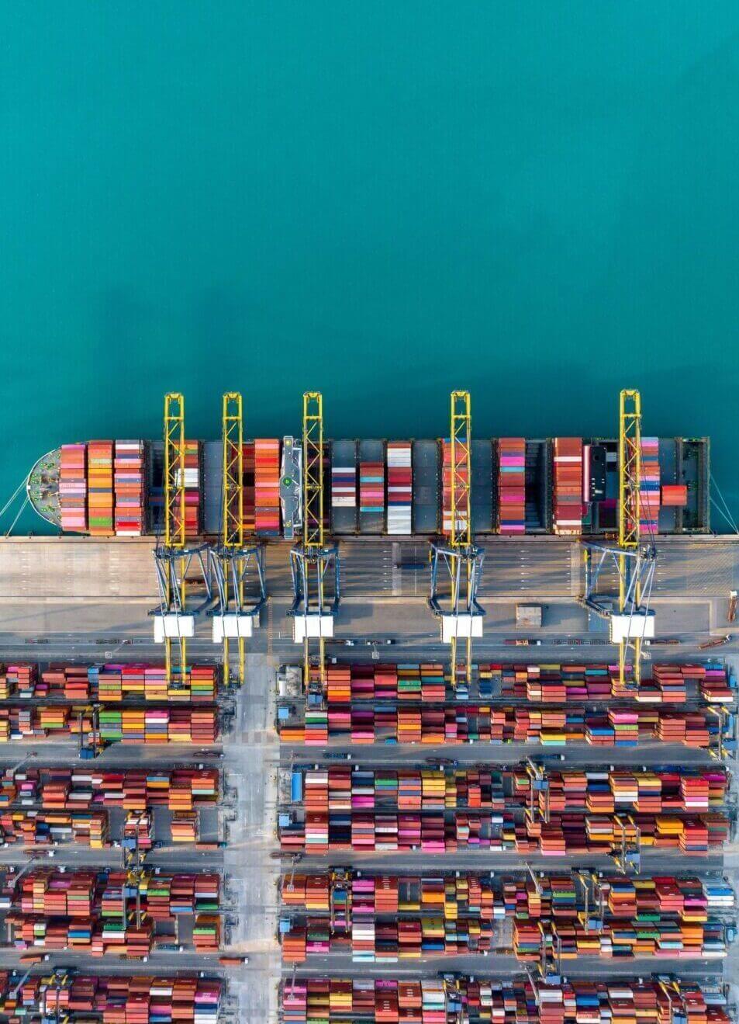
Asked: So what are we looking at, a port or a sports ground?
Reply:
port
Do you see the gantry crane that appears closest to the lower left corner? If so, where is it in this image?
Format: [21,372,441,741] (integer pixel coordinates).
[42,967,77,1024]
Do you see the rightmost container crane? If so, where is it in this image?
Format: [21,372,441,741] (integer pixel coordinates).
[695,702,733,764]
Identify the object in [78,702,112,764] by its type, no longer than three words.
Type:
container crane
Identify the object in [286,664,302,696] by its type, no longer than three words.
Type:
building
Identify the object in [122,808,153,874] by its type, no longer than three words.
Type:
container crane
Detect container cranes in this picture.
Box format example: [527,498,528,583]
[425,389,489,687]
[572,864,603,934]
[287,388,348,687]
[607,808,640,874]
[122,864,154,934]
[531,915,560,986]
[122,808,153,874]
[203,388,272,687]
[521,758,549,822]
[438,967,462,1024]
[695,702,733,764]
[42,967,77,1024]
[145,388,220,687]
[78,702,112,764]
[330,864,352,934]
[580,388,662,687]
[306,652,329,710]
